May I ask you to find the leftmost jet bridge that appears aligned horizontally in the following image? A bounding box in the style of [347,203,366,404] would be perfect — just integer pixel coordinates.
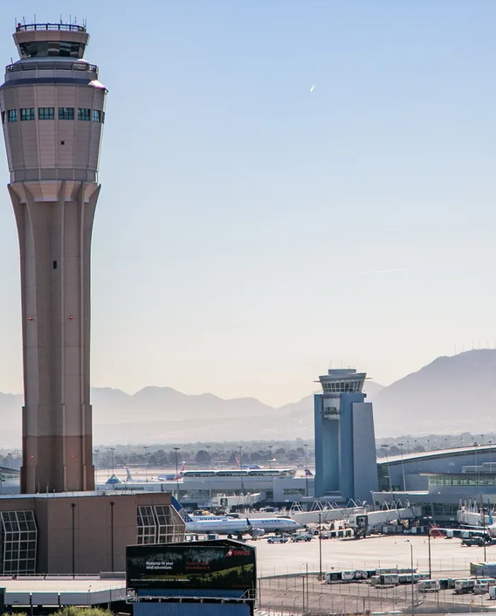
[211,488,270,516]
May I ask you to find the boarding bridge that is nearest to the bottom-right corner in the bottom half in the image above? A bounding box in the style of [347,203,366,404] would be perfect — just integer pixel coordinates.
[453,494,496,533]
